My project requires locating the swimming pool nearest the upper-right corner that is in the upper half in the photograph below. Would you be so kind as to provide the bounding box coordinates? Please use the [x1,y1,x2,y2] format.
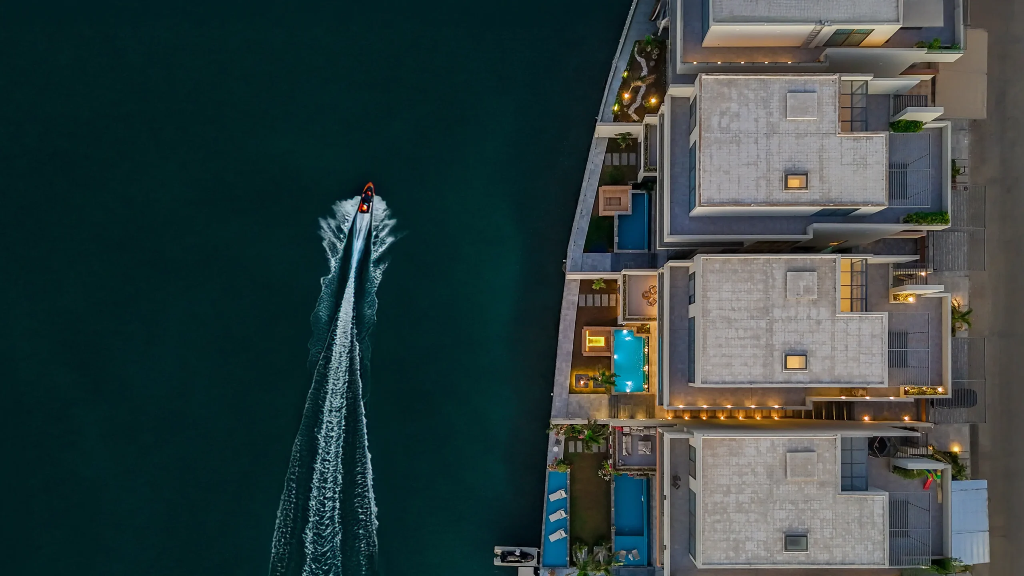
[614,190,652,252]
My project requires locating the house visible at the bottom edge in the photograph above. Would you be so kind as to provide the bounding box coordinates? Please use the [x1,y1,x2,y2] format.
[610,420,951,576]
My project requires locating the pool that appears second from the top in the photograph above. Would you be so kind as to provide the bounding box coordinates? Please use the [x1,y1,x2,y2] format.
[611,327,649,395]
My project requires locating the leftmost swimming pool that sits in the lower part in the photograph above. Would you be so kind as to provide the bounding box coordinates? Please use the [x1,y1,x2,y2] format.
[540,469,570,569]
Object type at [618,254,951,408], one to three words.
house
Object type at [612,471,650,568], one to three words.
swimming pool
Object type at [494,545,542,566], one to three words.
pier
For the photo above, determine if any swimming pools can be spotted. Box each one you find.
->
[614,190,652,252]
[540,469,570,569]
[611,327,649,395]
[612,471,650,568]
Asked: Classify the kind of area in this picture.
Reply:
residential area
